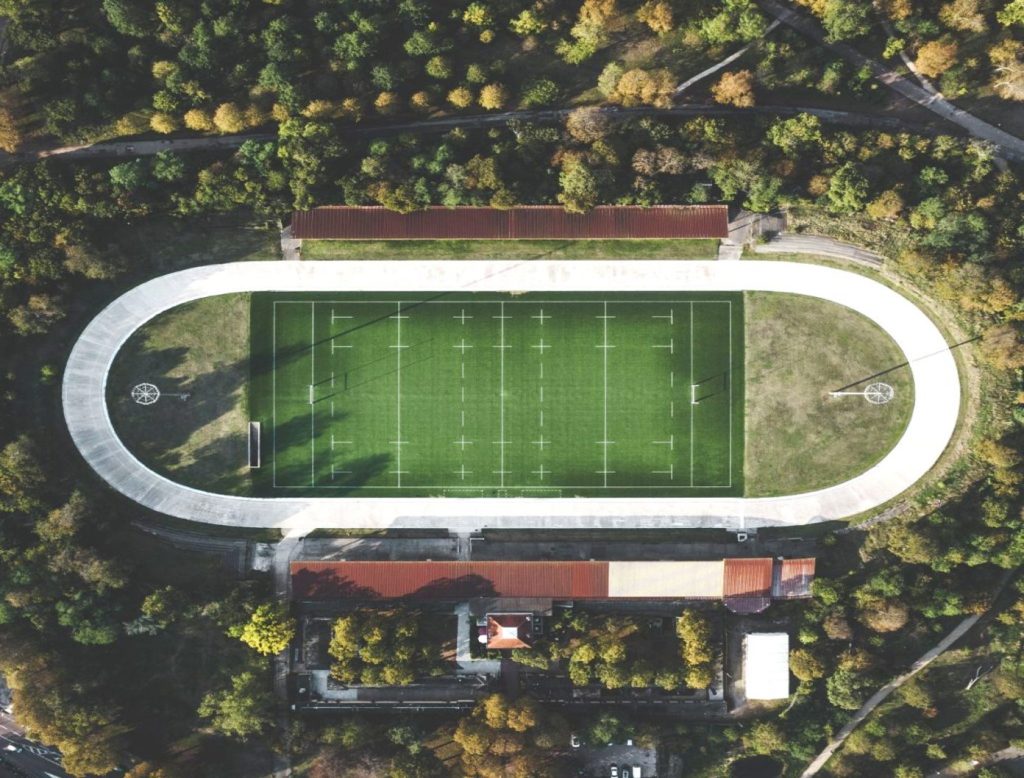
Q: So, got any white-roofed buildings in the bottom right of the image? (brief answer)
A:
Yes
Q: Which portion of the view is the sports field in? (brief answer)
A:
center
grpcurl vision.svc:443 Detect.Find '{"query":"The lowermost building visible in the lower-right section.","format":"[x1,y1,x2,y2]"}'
[742,629,789,698]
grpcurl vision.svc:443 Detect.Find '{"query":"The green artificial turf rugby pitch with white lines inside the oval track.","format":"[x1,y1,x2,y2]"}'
[249,291,744,498]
